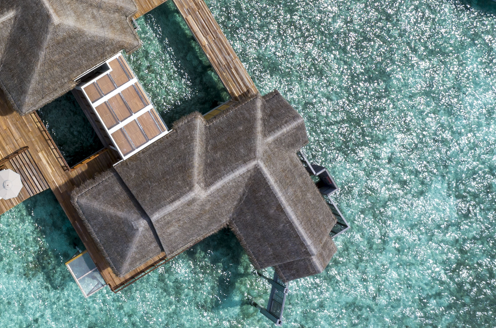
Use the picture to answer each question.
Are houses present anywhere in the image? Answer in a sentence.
Yes, the photo shows a house.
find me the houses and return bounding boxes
[73,90,339,283]
[0,0,142,117]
